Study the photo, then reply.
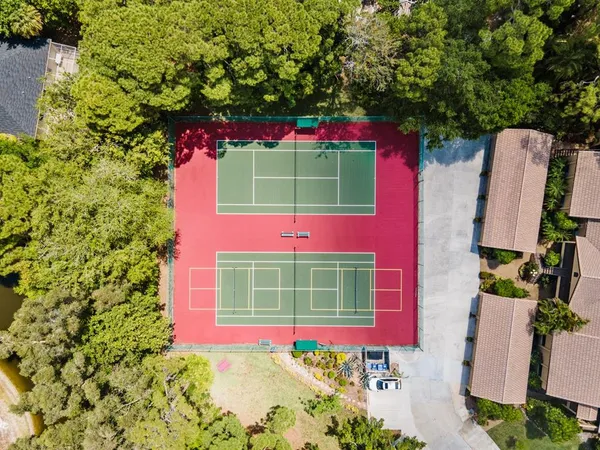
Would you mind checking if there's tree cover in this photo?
Yes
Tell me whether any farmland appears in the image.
No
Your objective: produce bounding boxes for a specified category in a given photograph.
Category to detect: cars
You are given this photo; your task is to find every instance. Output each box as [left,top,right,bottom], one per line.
[369,376,401,393]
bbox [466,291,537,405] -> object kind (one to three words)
building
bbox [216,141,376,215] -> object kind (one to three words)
tennis court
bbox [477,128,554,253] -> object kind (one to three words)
building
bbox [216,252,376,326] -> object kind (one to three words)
tennis court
